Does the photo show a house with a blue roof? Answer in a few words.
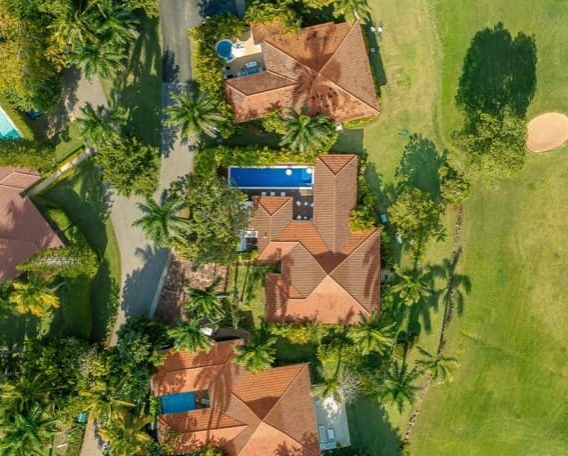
No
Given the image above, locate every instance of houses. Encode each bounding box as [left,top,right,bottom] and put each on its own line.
[154,339,351,456]
[226,154,381,323]
[218,19,380,133]
[0,167,66,295]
